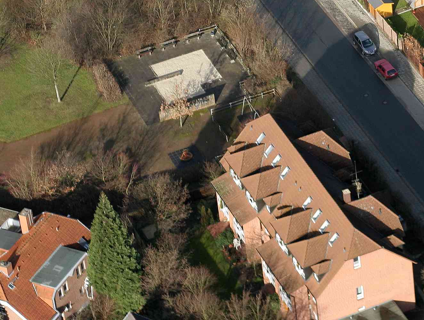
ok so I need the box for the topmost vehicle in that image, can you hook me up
[352,28,378,56]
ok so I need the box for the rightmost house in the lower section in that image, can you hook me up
[210,106,422,320]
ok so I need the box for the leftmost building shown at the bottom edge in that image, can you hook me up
[0,207,91,320]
